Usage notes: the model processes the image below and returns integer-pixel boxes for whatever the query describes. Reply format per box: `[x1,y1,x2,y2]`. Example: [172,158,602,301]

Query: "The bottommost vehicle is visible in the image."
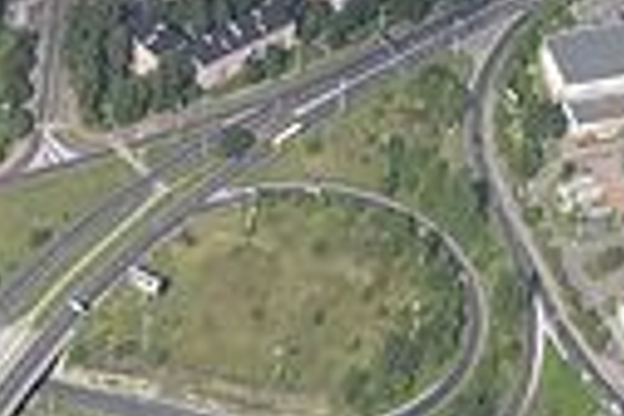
[607,399,623,416]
